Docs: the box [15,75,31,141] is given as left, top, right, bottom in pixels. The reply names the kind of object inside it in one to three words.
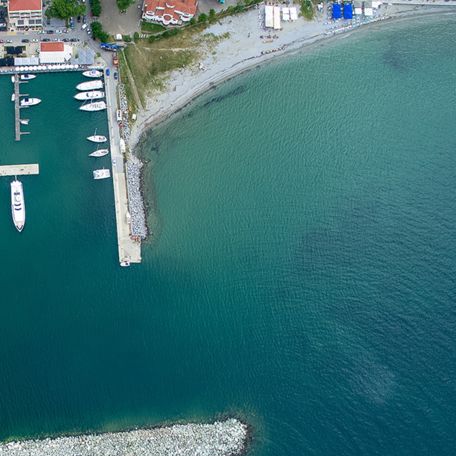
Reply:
pier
